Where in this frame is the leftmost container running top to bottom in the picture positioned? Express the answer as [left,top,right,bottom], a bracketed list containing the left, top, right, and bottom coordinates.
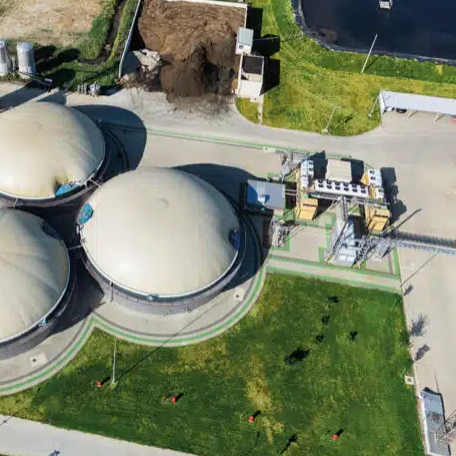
[295,155,321,223]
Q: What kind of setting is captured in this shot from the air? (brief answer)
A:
industrial area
